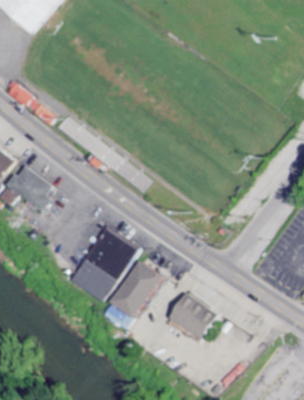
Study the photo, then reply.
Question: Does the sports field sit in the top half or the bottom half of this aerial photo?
top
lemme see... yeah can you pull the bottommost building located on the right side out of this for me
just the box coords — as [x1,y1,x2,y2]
[170,294,216,342]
